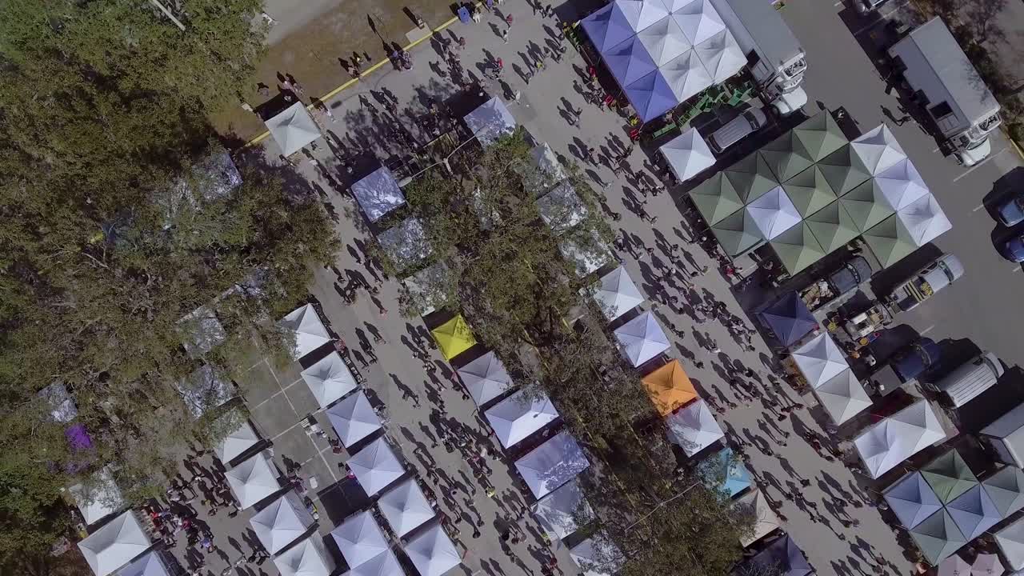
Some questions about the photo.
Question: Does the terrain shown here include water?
No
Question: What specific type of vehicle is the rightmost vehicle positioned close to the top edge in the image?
truck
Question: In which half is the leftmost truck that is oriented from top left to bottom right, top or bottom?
top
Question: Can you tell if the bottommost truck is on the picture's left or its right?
right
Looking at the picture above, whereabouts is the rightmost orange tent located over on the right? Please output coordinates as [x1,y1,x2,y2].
[640,358,698,416]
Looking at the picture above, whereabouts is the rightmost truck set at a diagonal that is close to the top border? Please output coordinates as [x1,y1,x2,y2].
[892,15,1002,167]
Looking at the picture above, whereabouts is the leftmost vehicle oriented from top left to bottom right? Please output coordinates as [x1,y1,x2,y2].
[714,0,813,118]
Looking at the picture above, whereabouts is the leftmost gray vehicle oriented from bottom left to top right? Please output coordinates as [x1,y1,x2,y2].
[704,108,765,156]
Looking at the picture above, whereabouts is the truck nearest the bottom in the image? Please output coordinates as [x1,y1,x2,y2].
[975,389,1024,460]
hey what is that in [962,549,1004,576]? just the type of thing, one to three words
umbrella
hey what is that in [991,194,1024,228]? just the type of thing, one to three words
car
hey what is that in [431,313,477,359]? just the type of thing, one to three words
tent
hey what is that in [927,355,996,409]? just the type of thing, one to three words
van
